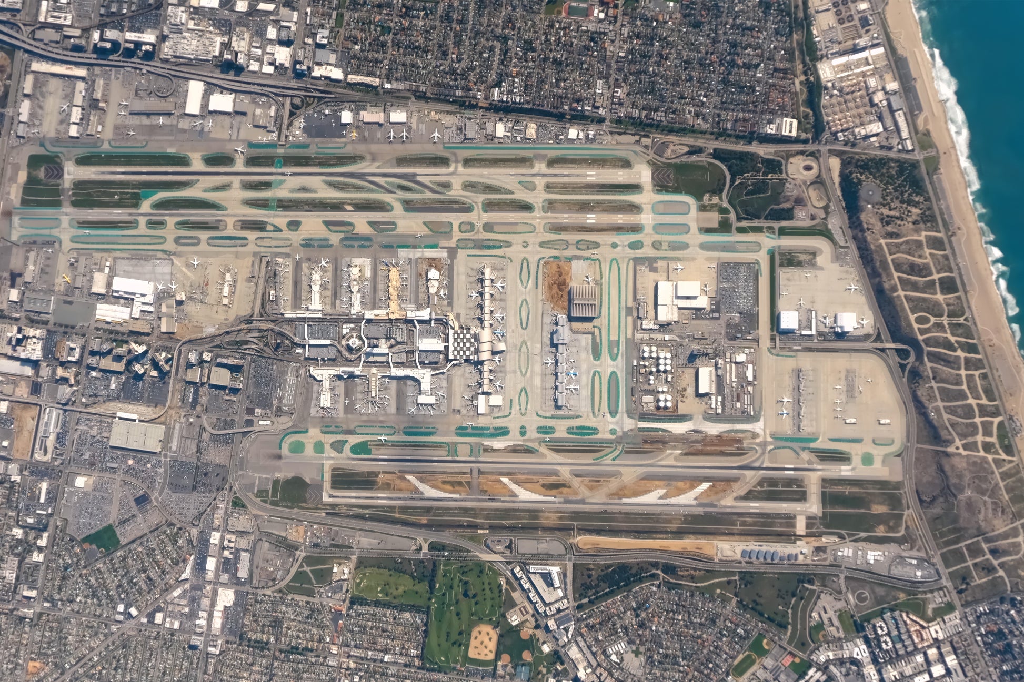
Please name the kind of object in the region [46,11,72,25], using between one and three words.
building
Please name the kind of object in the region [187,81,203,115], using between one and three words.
building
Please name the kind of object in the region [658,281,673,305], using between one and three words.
hangar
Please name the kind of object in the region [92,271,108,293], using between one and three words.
hangar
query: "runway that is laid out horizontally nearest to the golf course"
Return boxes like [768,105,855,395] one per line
[323,494,817,515]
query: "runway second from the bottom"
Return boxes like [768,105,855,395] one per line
[281,454,889,475]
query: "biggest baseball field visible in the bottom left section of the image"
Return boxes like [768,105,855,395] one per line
[81,524,120,554]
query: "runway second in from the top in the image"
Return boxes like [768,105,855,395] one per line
[13,210,697,223]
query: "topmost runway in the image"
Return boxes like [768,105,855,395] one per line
[64,167,651,181]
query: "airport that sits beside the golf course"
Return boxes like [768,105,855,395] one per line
[10,68,906,534]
